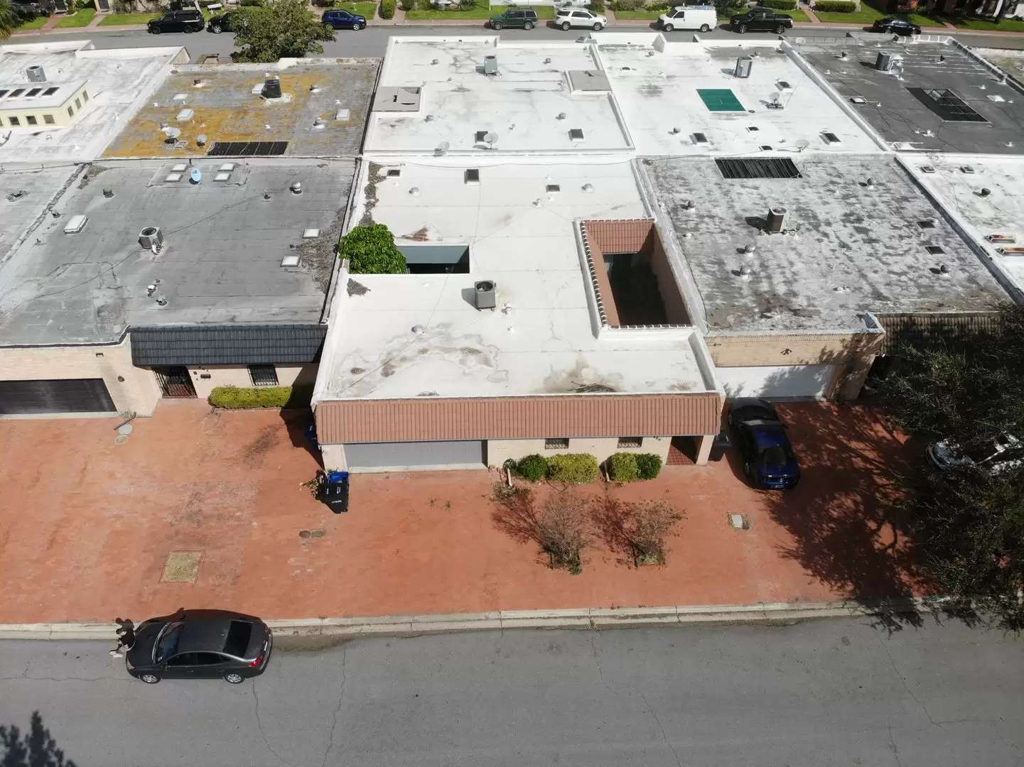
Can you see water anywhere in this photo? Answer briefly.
No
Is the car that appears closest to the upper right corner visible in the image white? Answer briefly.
No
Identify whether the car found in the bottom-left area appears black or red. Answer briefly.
black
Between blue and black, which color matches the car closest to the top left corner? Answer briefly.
black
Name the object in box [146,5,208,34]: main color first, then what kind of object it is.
black car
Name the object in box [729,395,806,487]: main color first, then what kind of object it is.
black car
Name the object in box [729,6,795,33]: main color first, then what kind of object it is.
black truck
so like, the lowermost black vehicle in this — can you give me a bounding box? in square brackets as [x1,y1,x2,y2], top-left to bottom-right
[117,610,272,683]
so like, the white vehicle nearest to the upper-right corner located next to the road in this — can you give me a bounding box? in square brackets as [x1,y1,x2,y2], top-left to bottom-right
[656,0,719,31]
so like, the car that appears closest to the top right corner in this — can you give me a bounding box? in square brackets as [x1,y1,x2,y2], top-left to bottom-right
[869,13,923,35]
